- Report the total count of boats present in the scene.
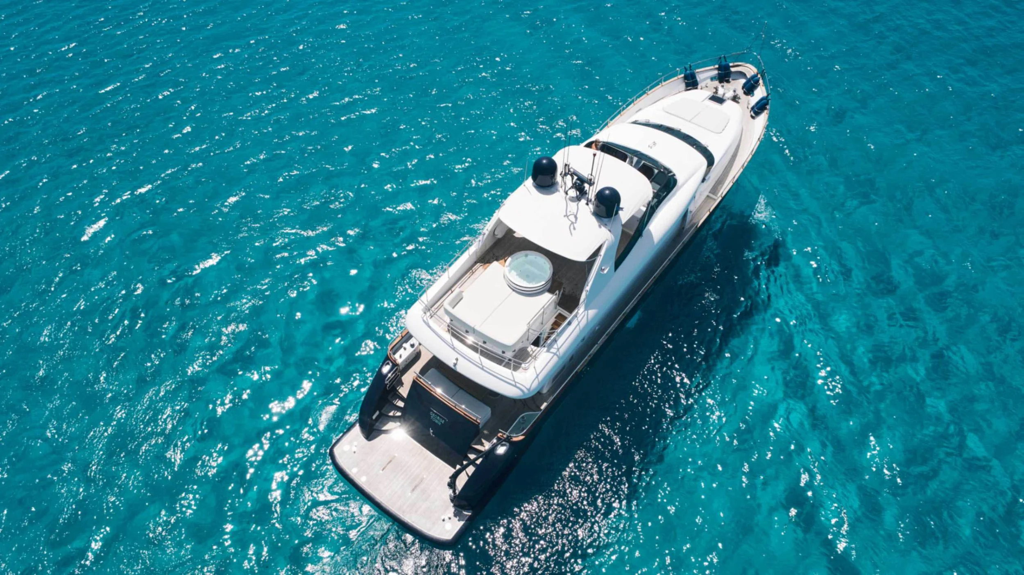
one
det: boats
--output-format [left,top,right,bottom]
[335,20,774,544]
